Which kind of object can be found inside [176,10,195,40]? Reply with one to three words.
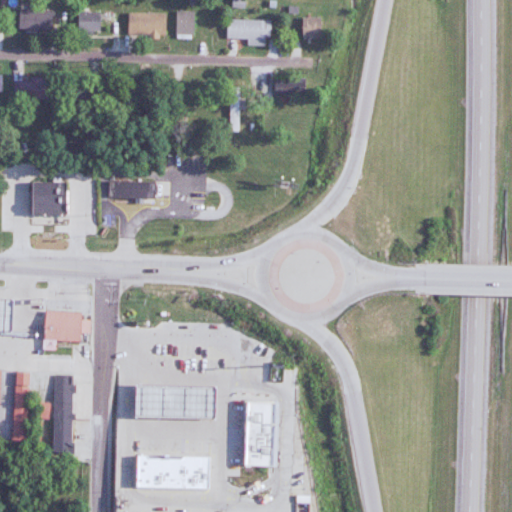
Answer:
house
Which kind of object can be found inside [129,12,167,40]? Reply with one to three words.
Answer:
house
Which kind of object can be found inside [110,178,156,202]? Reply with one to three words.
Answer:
building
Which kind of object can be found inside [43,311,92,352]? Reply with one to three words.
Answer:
building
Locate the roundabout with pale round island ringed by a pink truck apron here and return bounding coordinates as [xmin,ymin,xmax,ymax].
[260,229,354,323]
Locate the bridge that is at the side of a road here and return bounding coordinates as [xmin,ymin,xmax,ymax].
[408,264,512,296]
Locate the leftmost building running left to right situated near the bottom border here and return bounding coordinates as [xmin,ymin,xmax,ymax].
[136,455,208,489]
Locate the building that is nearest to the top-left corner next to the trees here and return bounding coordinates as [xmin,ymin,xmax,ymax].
[19,10,54,30]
